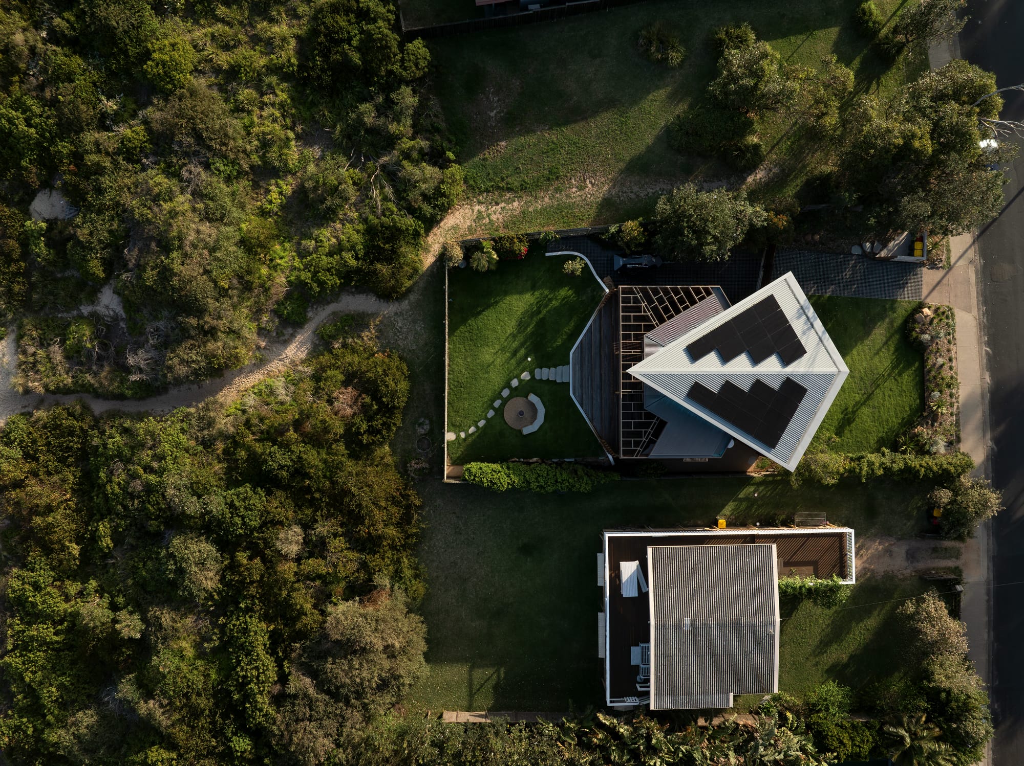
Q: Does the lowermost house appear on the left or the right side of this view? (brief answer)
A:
right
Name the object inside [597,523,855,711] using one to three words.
house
